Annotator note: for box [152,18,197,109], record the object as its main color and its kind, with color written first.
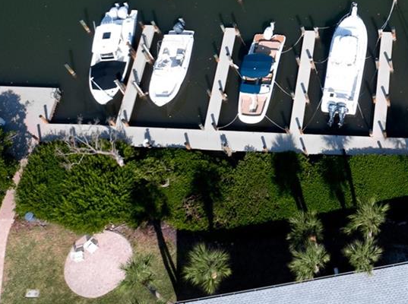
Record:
white boat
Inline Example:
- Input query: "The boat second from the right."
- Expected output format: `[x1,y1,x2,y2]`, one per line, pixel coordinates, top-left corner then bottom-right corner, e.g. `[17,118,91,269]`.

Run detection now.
[241,23,285,125]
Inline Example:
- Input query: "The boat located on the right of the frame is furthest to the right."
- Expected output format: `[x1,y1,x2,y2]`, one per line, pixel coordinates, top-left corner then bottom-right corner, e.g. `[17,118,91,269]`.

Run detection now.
[319,2,370,135]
